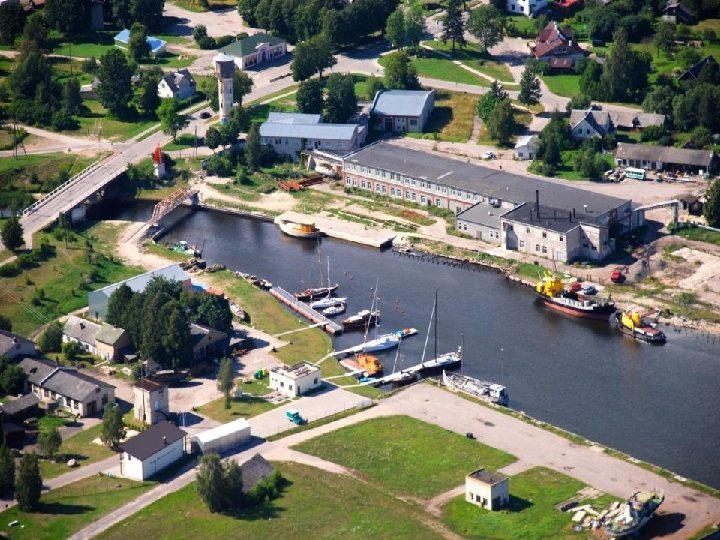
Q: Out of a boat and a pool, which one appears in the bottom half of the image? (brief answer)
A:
boat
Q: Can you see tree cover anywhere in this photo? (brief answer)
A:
Yes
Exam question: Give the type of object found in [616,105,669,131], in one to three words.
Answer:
barn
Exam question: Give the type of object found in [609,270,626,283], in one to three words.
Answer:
vehicle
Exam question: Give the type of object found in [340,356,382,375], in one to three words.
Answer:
boat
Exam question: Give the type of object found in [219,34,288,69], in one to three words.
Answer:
building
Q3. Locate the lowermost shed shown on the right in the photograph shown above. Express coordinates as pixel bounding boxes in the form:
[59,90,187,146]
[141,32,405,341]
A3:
[466,468,510,511]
